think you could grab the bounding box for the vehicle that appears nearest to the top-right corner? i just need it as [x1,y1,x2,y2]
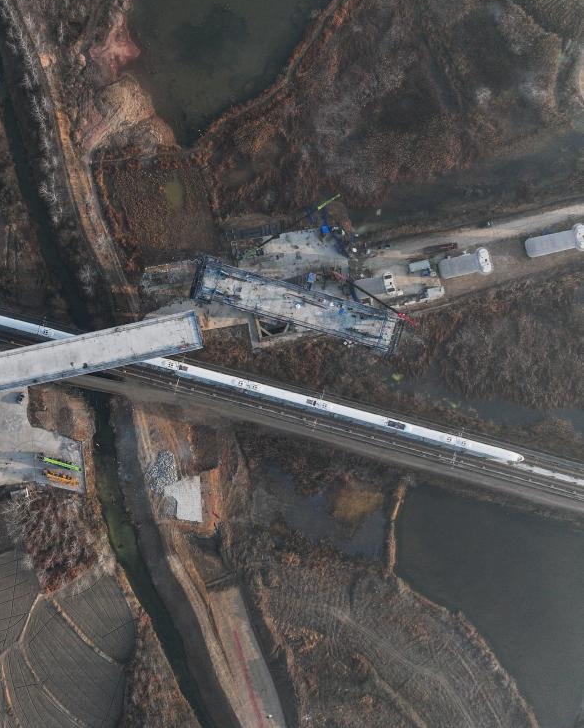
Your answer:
[426,241,461,254]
